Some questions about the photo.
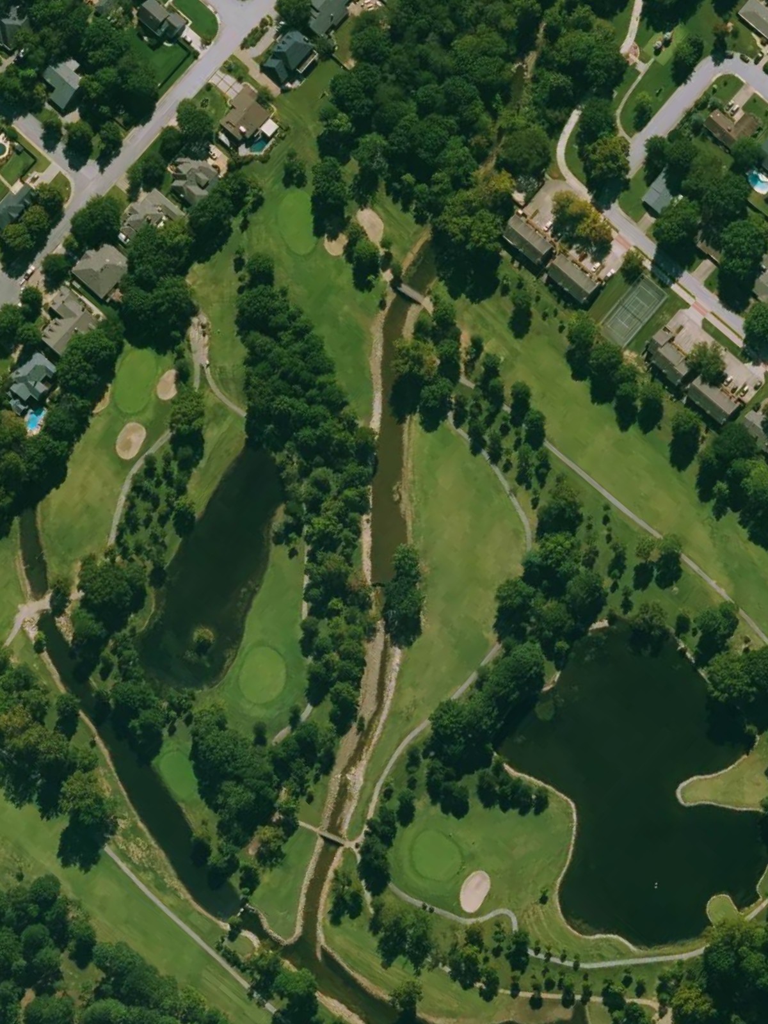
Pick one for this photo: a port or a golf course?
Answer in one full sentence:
This looks like a golf course.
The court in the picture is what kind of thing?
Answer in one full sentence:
What you see as the court is a tennis court.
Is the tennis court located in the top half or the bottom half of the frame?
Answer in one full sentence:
Seen from above, the tennis court lies in the top half of the view.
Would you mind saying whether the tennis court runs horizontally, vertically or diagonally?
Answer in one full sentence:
In this picture, the tennis court lies diagonally.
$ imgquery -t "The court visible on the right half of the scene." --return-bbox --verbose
[598,273,670,348]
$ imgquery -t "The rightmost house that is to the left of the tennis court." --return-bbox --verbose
[546,254,601,304]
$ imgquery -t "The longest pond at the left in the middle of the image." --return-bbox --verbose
[136,440,283,693]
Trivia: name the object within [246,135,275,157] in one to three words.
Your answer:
swimming pool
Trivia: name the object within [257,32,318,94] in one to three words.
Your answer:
house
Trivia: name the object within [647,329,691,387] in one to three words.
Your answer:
house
